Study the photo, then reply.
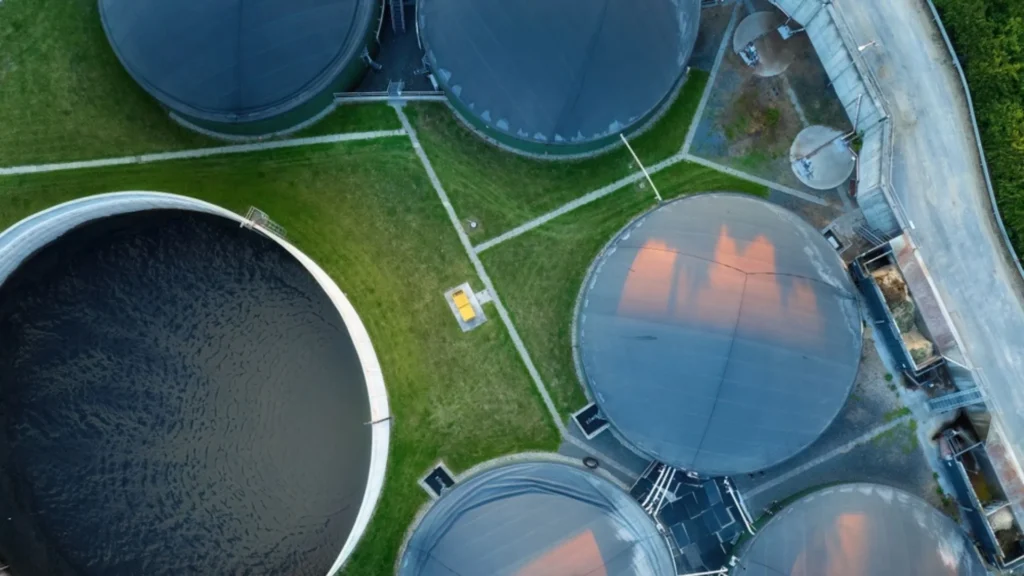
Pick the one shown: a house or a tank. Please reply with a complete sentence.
There is a tank in the scene.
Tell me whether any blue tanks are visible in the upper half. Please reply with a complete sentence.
Yes, I can see a blue tank in the upper half.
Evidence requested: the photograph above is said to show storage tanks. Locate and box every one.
[97,0,394,134]
[724,479,996,576]
[414,0,701,153]
[397,455,677,576]
[576,190,863,476]
[0,192,394,576]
